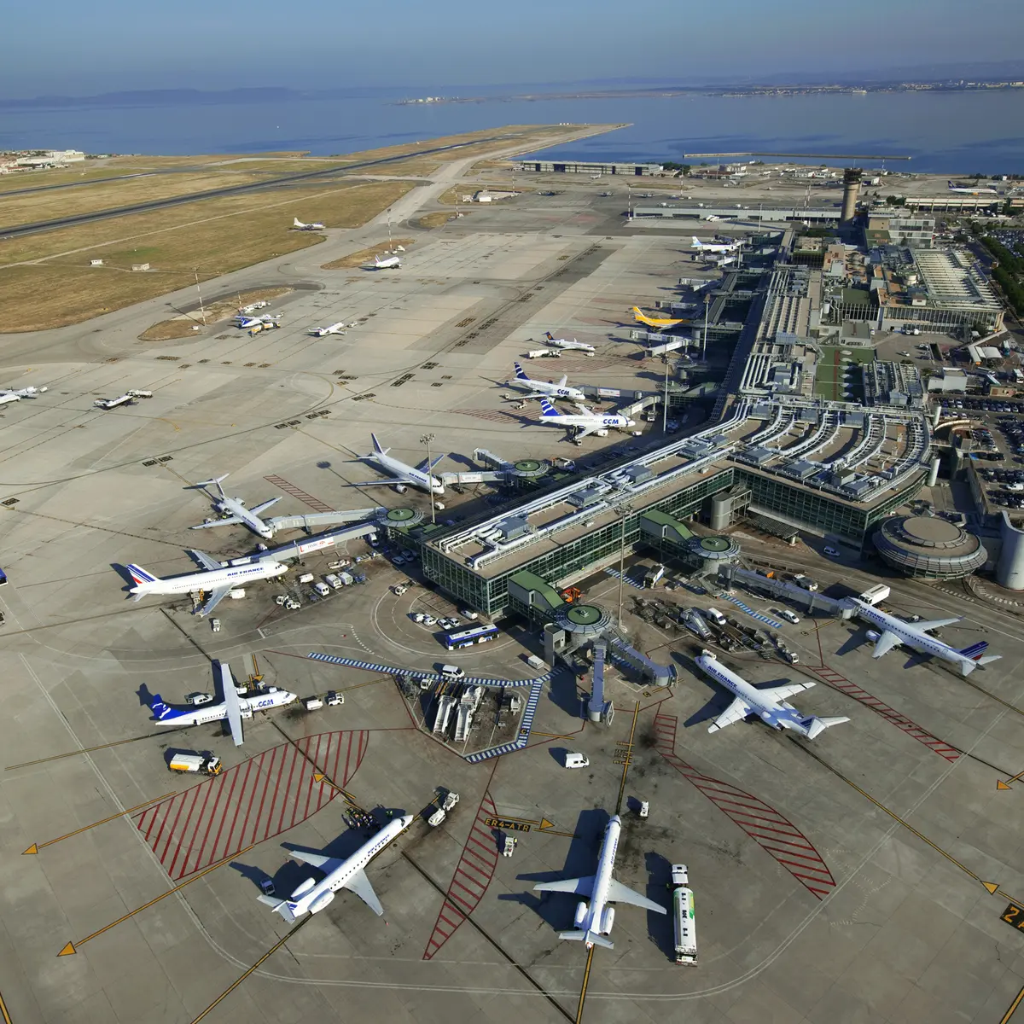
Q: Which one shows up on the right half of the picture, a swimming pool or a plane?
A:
plane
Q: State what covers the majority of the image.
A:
paved ground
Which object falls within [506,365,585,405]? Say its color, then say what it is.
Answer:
white airplane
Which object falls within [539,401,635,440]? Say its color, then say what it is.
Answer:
white airplane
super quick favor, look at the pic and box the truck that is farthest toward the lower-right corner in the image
[671,859,694,963]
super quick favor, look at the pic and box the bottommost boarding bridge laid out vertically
[577,635,621,728]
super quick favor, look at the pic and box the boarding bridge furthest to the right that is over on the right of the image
[724,557,868,624]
